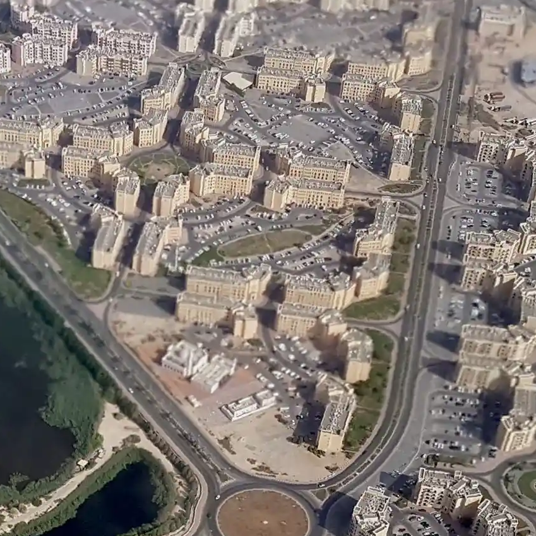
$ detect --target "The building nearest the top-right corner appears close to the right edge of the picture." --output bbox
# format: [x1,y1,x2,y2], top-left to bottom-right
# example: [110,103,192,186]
[471,4,525,39]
